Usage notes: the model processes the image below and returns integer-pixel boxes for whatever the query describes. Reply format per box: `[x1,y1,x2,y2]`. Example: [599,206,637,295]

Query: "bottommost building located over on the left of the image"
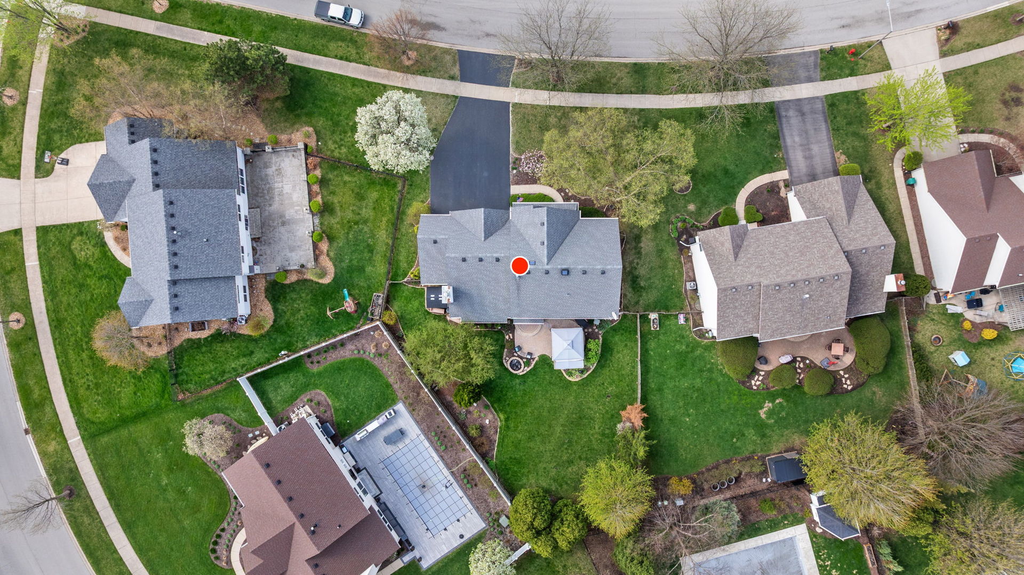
[222,413,402,575]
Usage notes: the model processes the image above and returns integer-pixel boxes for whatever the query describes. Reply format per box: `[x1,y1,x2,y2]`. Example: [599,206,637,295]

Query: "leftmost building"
[87,118,268,328]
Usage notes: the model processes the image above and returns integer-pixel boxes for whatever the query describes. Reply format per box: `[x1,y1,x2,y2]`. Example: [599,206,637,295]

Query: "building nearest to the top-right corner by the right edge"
[910,149,1024,294]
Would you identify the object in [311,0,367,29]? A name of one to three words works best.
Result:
truck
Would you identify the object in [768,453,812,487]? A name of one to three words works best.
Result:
shed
